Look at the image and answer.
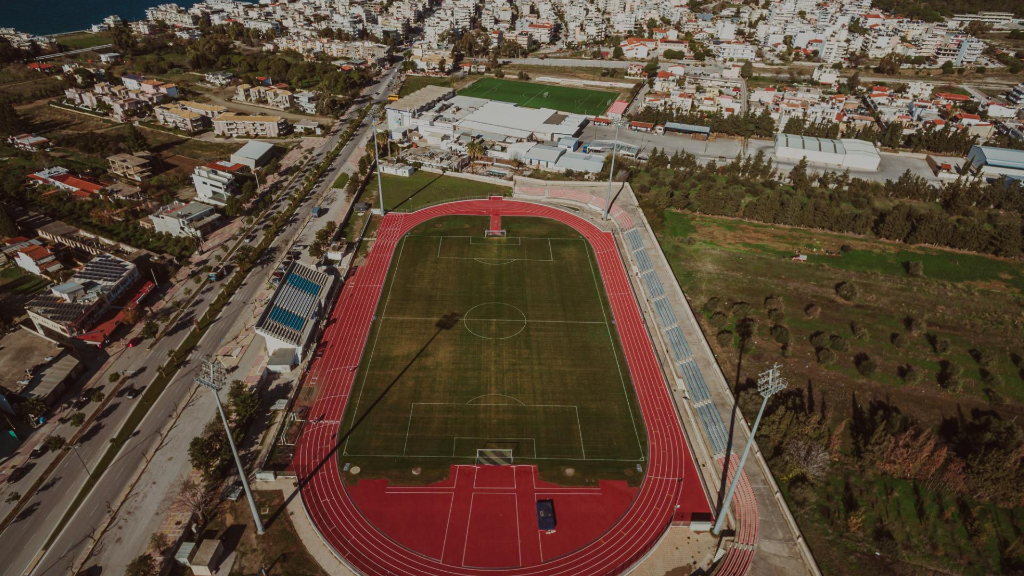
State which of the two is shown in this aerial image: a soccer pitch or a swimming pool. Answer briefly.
soccer pitch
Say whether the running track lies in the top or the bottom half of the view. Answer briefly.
bottom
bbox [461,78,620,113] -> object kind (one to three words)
sports field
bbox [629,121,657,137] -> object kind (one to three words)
shed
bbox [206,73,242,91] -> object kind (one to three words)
house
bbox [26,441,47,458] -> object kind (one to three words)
car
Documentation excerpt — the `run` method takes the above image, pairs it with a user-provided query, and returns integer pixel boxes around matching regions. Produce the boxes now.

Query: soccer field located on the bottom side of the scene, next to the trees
[338,215,648,489]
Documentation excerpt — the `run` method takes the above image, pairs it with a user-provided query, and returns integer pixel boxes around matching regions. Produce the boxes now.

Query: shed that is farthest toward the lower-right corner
[689,515,713,529]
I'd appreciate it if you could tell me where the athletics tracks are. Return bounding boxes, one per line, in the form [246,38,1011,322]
[284,200,718,576]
